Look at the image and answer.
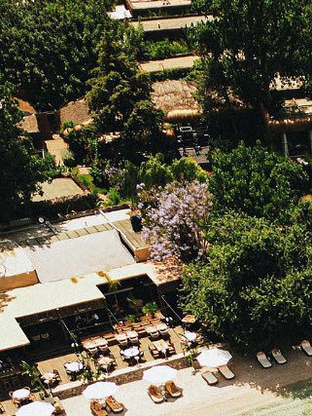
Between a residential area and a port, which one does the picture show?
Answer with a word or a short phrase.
residential area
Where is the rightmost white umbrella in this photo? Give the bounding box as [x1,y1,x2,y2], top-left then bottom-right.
[198,352,232,381]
